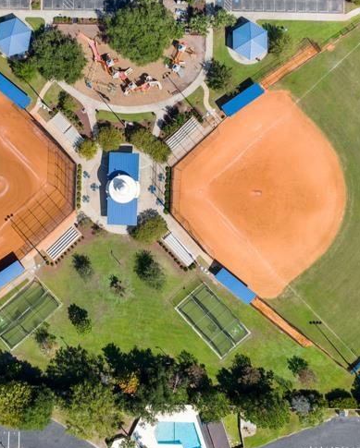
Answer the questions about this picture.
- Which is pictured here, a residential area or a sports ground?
sports ground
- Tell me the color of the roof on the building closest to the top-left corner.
blue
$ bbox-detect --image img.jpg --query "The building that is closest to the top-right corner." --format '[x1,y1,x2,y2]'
[232,21,269,62]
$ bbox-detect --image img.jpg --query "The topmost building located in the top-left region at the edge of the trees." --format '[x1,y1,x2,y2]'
[0,16,32,57]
